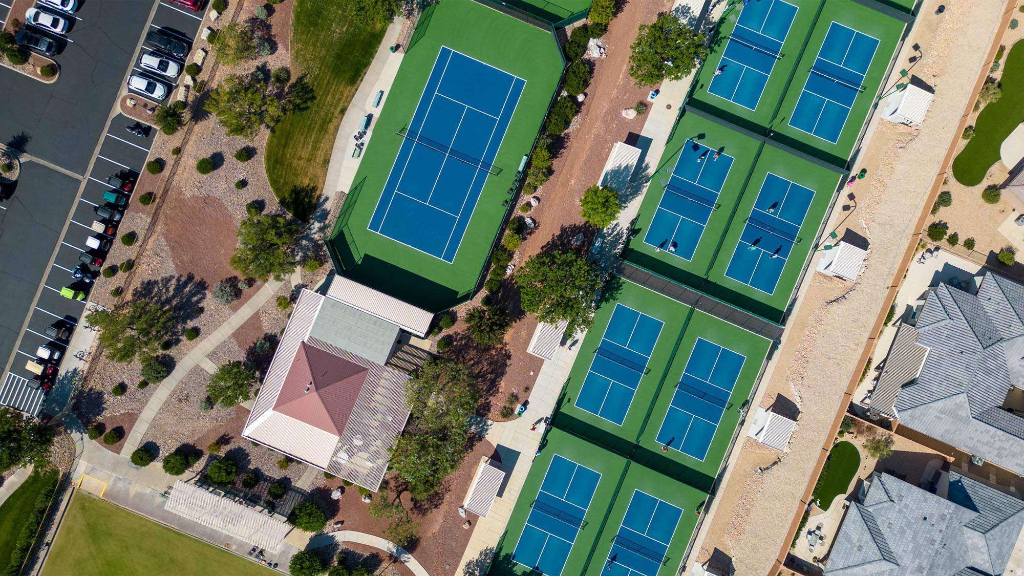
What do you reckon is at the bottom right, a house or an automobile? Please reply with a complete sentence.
What appears at the bottom right is a house.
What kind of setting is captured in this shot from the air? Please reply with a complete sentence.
This image shows a sports ground.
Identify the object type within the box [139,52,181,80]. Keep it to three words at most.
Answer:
car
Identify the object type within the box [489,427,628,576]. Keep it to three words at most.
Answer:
sports court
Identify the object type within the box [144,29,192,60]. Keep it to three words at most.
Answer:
car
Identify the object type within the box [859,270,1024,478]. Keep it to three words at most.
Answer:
house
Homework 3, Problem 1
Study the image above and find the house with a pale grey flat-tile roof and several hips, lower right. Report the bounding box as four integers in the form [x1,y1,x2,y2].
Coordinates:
[817,468,1024,576]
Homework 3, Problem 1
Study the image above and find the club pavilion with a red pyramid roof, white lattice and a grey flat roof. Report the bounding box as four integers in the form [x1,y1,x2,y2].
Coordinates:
[241,289,421,493]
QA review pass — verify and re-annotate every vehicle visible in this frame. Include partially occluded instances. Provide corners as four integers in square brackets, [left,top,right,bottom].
[18,30,61,58]
[59,285,88,301]
[144,29,192,60]
[106,175,135,192]
[23,358,56,375]
[95,204,124,221]
[77,251,106,267]
[90,219,118,236]
[127,126,147,138]
[139,52,181,80]
[26,374,55,390]
[126,74,170,102]
[40,0,82,17]
[165,0,208,17]
[101,189,130,206]
[84,235,113,251]
[35,344,64,359]
[42,323,71,338]
[27,8,70,36]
